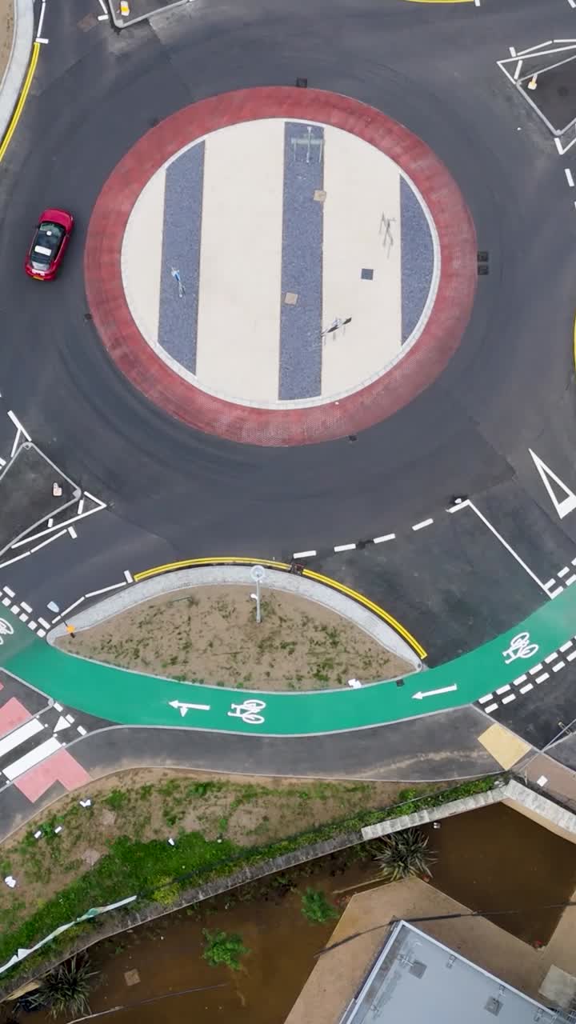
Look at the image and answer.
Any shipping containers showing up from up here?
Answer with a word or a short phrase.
No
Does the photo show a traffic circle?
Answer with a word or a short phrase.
Yes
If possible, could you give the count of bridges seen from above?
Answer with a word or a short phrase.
none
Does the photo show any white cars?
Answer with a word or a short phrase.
No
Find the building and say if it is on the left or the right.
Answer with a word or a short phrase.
right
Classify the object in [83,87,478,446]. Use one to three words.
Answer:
roundabout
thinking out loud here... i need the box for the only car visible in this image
[25,211,74,283]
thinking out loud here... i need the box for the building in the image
[331,922,562,1024]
